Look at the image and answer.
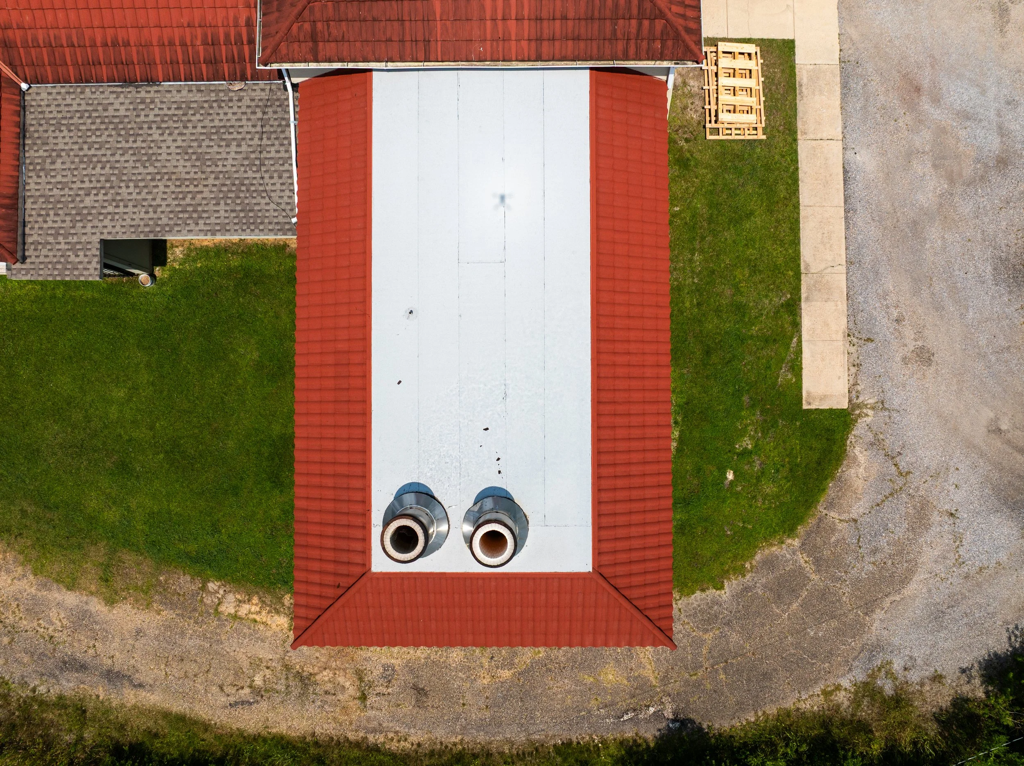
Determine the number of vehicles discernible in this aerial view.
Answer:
none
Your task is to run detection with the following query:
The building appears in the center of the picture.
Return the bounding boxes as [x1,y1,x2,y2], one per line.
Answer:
[288,70,679,652]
